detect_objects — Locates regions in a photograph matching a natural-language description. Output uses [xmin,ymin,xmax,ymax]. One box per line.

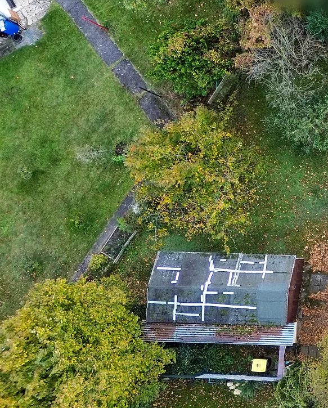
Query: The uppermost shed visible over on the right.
[146,251,305,326]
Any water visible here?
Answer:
No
